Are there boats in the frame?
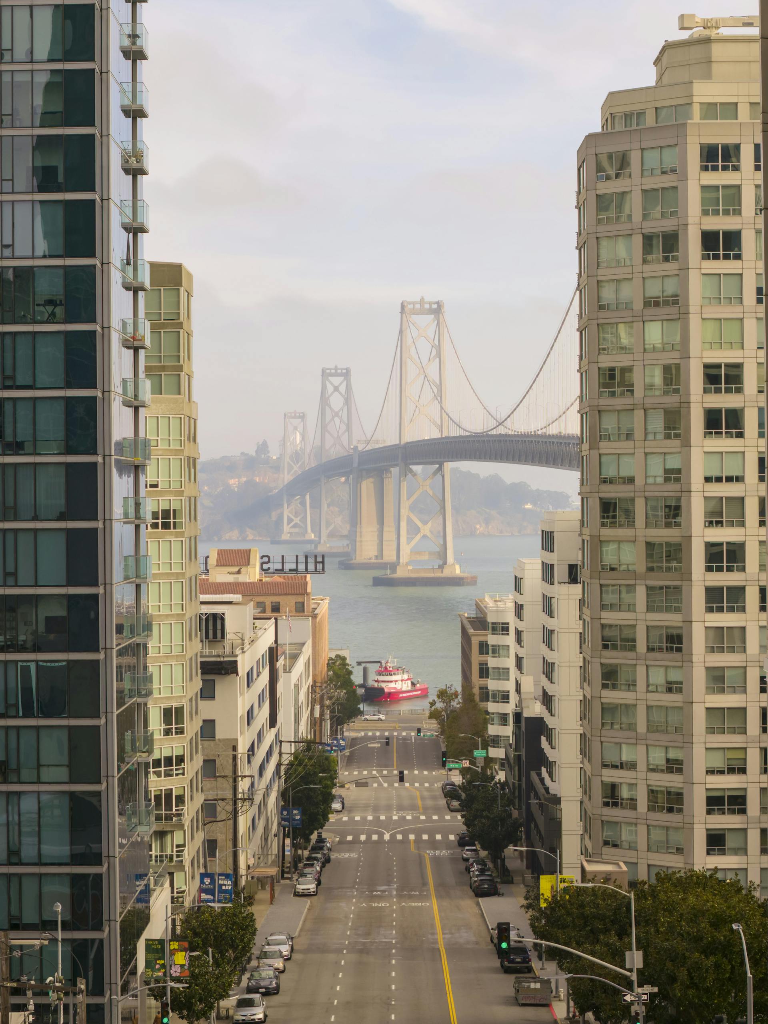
Yes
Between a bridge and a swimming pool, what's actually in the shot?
bridge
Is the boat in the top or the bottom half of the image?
bottom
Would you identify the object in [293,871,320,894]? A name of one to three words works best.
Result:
car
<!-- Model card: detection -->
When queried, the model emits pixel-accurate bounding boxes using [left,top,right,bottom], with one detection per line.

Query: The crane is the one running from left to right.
[680,12,757,34]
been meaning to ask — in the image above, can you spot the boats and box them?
[362,657,434,702]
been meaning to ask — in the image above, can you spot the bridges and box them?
[268,250,605,675]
